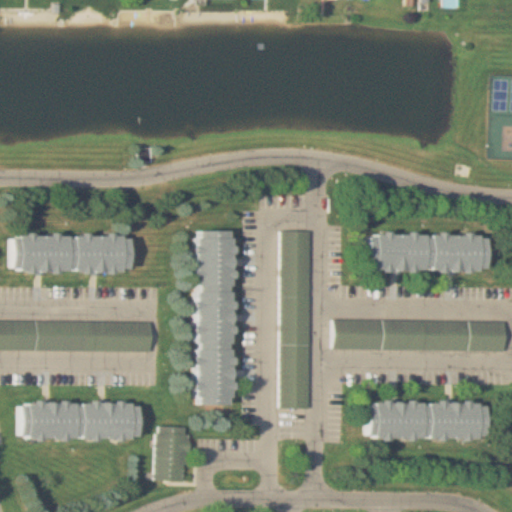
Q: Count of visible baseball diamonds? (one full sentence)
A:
The picture shows no baseball diamonds.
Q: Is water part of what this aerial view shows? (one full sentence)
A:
Yes, water shows up in the scene.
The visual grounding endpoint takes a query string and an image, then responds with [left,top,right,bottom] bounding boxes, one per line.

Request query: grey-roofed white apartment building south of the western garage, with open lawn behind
[15,401,144,442]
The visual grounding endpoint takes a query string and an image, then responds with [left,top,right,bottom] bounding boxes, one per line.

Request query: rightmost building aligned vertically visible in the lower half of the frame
[277,231,310,408]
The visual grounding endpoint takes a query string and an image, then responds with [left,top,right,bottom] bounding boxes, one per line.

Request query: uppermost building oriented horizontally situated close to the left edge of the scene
[7,234,136,274]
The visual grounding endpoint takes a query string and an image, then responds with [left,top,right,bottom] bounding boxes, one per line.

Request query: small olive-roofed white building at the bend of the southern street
[146,427,187,482]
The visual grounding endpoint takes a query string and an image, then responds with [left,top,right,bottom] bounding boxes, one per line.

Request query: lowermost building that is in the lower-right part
[362,401,492,442]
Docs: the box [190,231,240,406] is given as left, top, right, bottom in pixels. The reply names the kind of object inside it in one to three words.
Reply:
building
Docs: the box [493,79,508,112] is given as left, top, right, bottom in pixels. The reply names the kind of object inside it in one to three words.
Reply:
sports court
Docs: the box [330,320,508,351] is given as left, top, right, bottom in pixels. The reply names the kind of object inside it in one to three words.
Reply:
building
